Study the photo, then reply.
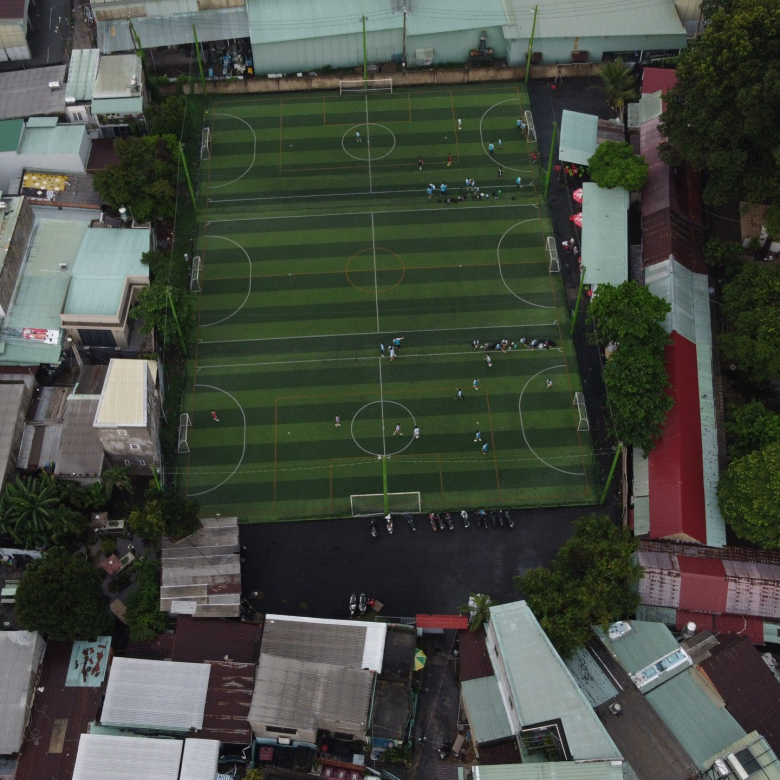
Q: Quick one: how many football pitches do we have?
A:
4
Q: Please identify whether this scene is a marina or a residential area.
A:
residential area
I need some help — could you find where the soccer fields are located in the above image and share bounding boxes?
[187,88,587,513]
[193,80,544,212]
[181,194,569,355]
[169,335,599,520]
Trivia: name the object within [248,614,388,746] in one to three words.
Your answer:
house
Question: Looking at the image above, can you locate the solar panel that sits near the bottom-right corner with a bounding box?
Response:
[734,748,761,776]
